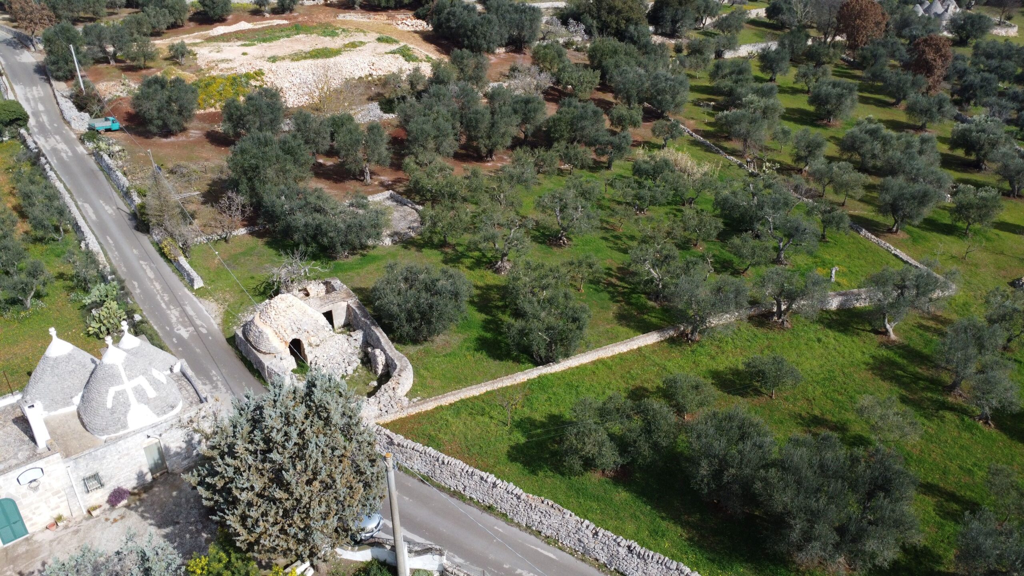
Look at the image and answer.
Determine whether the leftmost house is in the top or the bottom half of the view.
bottom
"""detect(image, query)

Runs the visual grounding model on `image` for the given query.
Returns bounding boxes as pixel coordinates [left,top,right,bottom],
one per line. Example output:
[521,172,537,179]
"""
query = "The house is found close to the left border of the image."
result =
[0,317,223,550]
